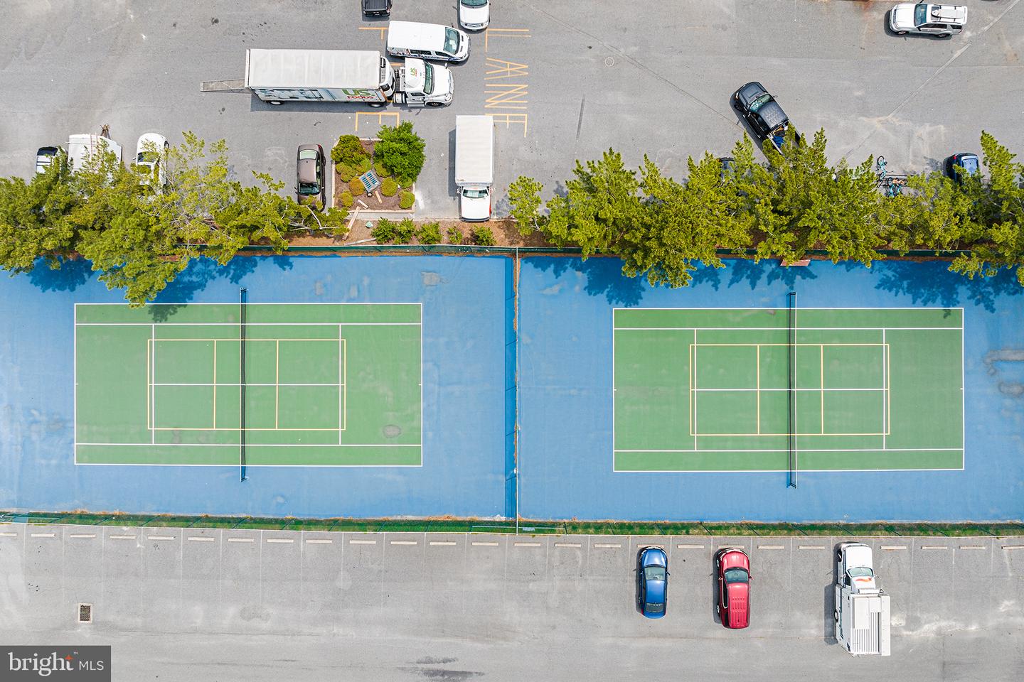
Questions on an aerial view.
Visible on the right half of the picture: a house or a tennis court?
tennis court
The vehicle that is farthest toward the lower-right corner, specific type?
truck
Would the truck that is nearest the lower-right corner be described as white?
Yes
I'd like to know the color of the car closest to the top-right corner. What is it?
white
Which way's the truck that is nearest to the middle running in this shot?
up and down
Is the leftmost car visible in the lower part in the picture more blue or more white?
blue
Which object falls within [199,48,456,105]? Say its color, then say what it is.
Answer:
white truck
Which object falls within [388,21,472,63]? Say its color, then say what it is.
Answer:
white van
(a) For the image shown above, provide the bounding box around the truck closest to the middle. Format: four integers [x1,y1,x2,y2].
[455,116,497,224]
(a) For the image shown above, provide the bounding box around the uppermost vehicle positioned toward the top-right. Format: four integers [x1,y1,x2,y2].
[886,0,969,38]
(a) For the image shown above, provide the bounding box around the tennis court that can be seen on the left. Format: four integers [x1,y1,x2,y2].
[0,256,516,519]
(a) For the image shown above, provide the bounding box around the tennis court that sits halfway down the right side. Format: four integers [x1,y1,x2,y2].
[517,257,1024,522]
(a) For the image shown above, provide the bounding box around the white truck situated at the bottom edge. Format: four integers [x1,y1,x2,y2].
[832,543,888,656]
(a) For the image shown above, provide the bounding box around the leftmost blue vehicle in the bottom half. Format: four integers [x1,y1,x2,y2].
[635,548,671,621]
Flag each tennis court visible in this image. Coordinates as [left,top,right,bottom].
[0,256,516,519]
[517,257,1024,522]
